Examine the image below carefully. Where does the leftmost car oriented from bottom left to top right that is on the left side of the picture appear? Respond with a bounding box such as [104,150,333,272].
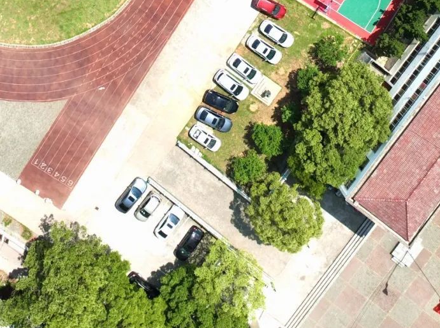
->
[116,176,147,214]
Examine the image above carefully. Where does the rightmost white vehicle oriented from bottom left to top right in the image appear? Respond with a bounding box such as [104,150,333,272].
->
[153,202,184,242]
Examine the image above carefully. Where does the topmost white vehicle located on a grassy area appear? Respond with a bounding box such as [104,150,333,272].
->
[256,19,294,48]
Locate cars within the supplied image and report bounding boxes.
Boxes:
[249,0,287,20]
[185,123,224,151]
[194,104,232,132]
[116,176,147,214]
[212,68,249,99]
[244,35,282,63]
[225,54,262,83]
[127,268,161,297]
[153,202,184,242]
[256,19,294,48]
[173,224,204,263]
[135,188,164,223]
[201,87,239,115]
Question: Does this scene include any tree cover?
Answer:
Yes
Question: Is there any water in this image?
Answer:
No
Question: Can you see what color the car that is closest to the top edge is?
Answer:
red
